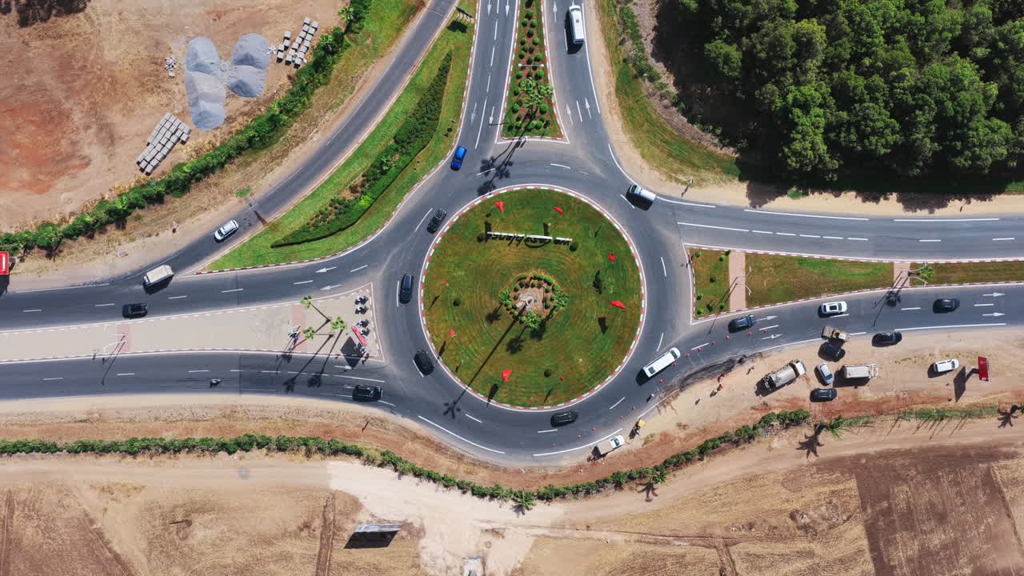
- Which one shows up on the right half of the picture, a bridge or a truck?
truck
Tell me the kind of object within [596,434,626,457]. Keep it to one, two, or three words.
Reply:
truck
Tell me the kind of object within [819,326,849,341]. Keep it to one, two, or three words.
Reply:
work vehicle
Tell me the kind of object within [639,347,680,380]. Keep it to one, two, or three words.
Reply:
vehicle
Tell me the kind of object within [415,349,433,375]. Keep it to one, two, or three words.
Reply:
car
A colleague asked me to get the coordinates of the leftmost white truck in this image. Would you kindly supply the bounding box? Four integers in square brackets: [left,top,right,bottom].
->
[145,263,177,286]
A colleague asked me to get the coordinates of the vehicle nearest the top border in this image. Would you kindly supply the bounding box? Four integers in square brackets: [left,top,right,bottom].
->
[569,6,583,45]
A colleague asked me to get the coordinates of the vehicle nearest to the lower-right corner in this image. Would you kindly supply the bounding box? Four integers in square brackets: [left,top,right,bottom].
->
[931,358,958,373]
